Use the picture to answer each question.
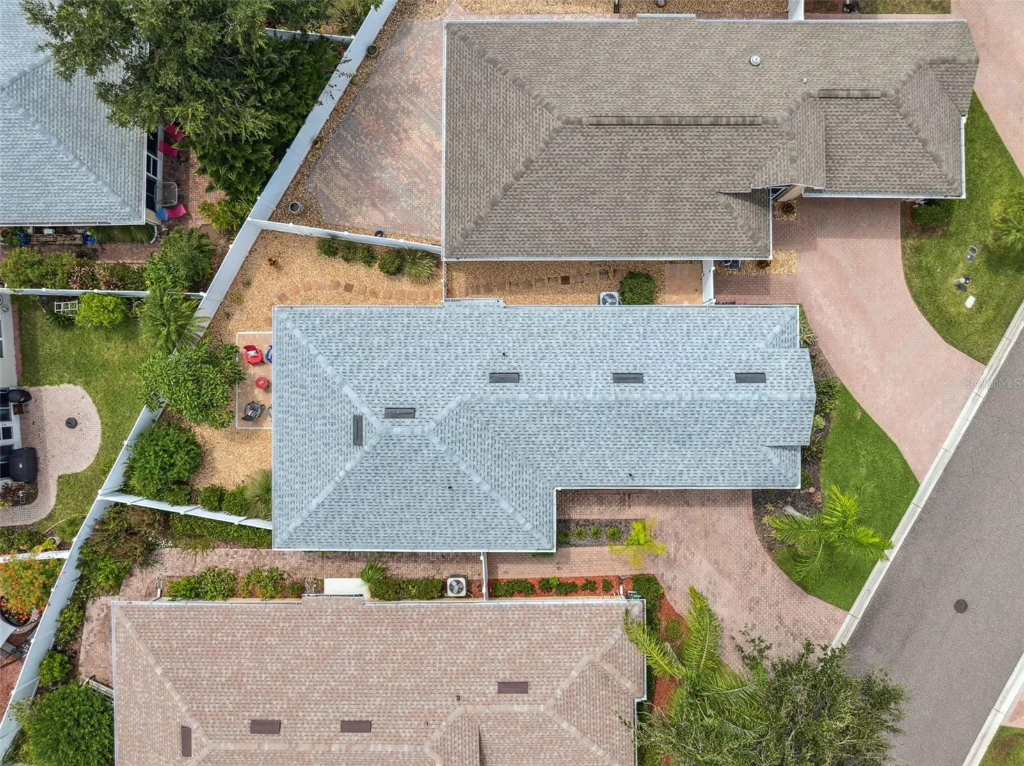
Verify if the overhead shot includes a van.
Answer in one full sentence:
No, the picture doesn't show any van.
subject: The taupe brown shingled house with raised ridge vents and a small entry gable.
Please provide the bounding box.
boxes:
[443,14,981,259]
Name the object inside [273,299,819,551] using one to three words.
house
